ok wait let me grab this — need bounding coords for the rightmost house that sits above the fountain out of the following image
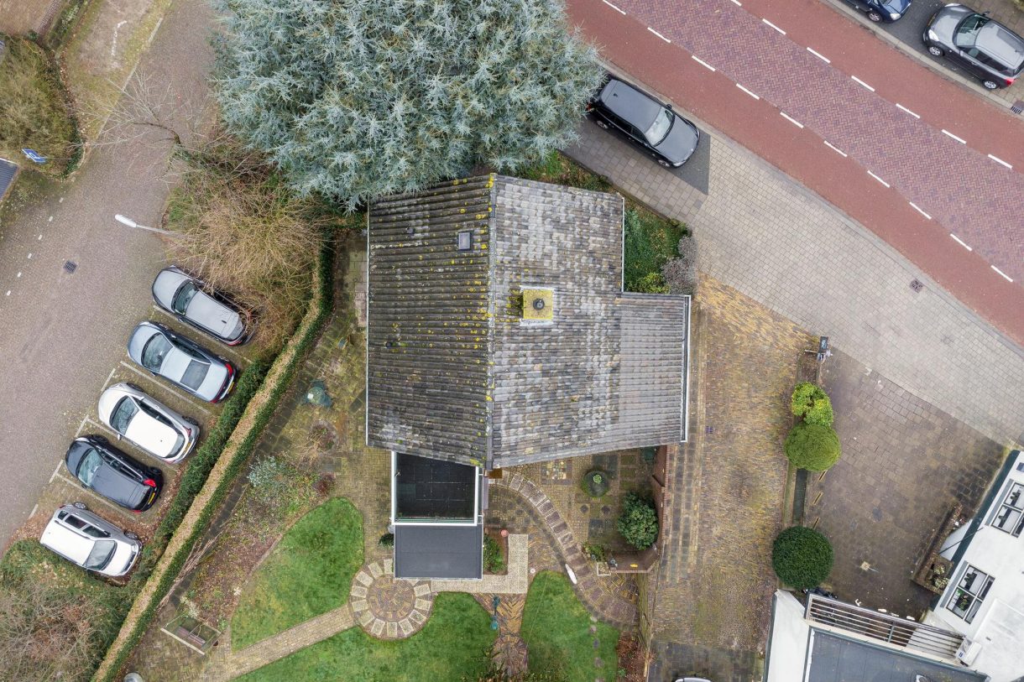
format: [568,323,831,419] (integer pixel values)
[363,169,697,473]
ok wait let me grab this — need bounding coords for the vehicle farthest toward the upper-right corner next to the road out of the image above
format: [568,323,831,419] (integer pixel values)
[919,5,1024,96]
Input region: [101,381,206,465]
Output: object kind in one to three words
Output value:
car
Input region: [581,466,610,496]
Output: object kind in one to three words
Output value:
fountain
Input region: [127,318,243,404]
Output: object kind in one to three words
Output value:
car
